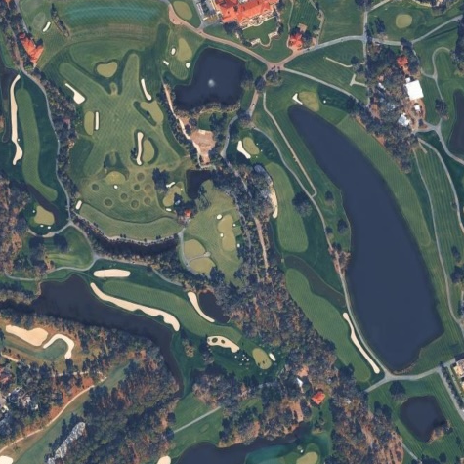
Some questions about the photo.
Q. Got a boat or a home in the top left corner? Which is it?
home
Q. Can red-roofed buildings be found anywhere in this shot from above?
Yes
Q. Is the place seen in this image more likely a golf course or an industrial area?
golf course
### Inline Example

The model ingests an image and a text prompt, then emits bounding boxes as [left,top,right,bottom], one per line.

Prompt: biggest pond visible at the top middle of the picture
[173,45,248,110]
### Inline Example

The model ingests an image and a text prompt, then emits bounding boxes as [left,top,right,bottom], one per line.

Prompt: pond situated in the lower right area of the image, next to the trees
[399,395,450,444]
